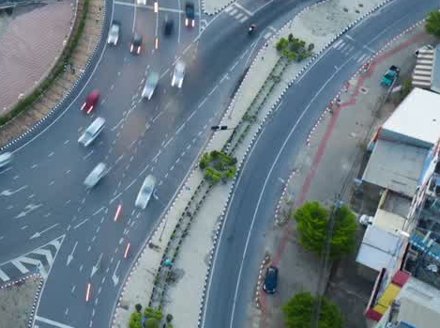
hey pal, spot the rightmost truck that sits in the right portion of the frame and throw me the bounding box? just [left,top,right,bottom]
[379,63,400,89]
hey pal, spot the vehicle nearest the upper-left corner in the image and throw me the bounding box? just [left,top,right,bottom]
[107,22,121,46]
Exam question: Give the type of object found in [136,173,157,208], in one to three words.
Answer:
vehicle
